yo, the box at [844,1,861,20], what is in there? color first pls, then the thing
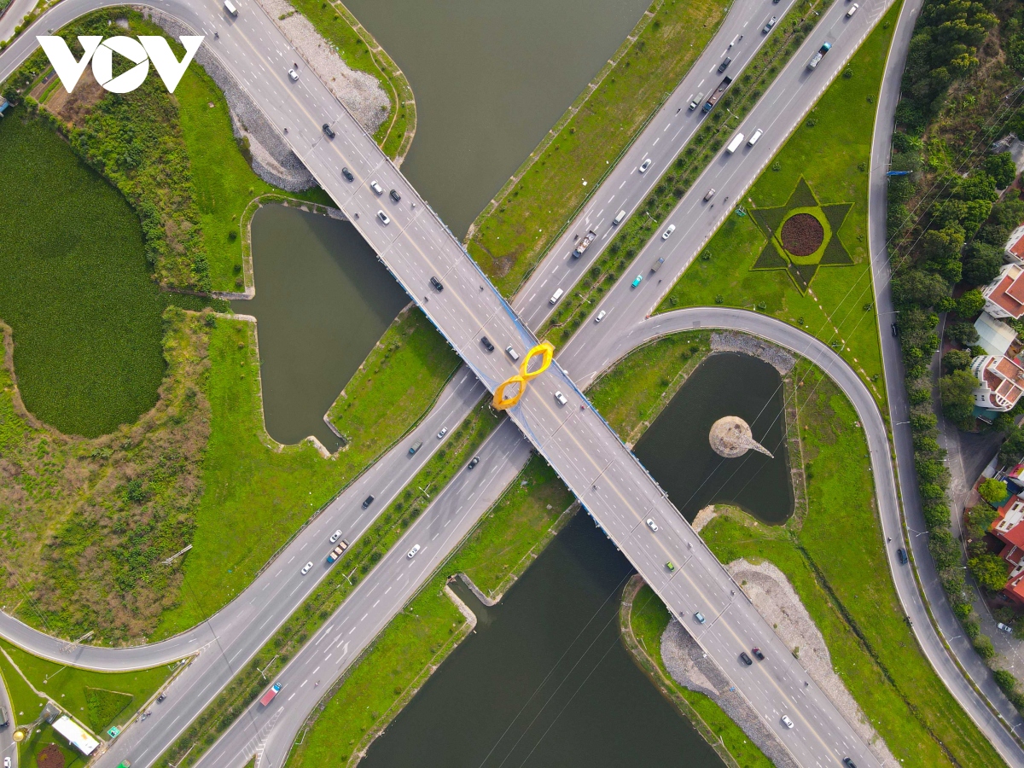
white vehicle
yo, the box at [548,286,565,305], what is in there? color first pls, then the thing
white vehicle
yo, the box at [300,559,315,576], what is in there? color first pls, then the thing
white car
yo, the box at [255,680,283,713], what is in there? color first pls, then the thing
red truck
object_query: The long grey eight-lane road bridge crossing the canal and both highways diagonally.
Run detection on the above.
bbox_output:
[201,0,884,768]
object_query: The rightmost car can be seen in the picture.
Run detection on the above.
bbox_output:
[995,621,1013,634]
